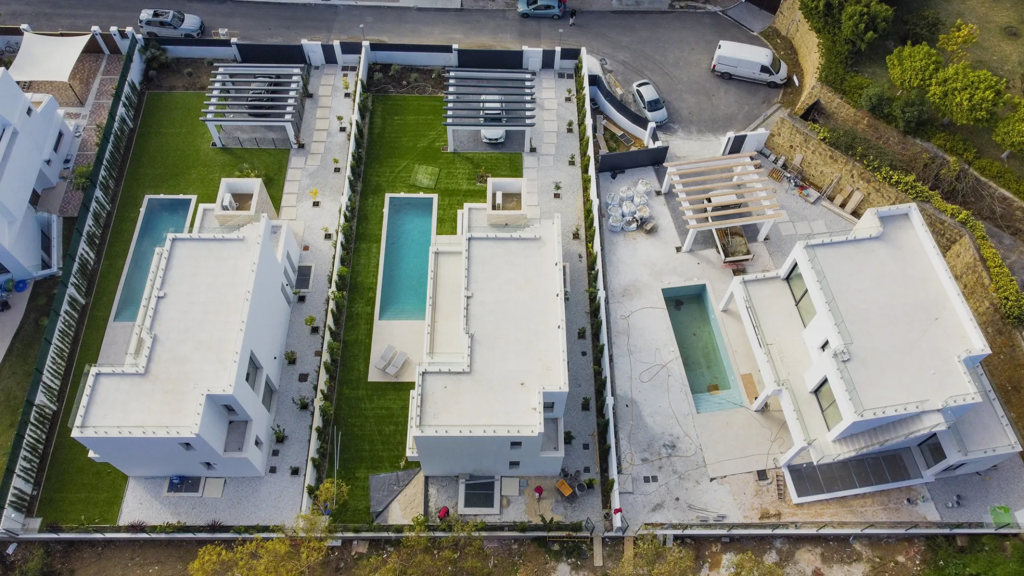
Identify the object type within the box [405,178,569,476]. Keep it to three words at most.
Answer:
house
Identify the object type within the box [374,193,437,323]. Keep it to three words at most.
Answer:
swimming pool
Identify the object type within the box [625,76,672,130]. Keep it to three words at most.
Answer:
car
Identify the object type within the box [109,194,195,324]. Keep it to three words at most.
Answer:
swimming pool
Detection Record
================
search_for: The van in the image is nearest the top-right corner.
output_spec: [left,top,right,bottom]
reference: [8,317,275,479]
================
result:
[711,30,799,87]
